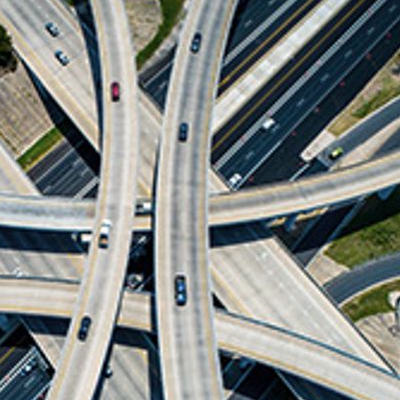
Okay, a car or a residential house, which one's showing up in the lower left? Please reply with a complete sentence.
The one visible in the lower left is a car.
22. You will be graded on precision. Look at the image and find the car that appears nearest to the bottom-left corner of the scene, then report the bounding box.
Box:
[18,358,37,377]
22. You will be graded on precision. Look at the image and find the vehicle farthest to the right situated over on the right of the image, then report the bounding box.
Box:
[329,147,343,159]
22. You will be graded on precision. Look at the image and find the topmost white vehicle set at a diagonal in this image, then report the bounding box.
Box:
[261,117,276,132]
